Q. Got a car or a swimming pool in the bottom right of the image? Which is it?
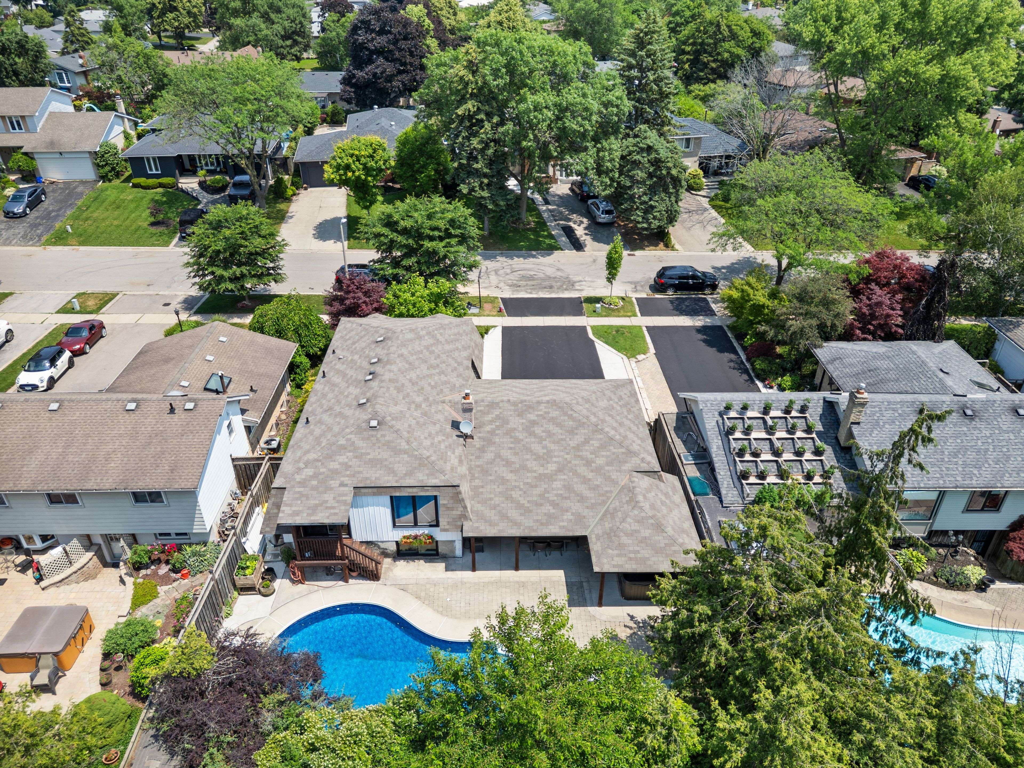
swimming pool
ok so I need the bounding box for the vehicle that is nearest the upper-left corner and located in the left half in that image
[4,190,44,215]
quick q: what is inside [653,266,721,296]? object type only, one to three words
car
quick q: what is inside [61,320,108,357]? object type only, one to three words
car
